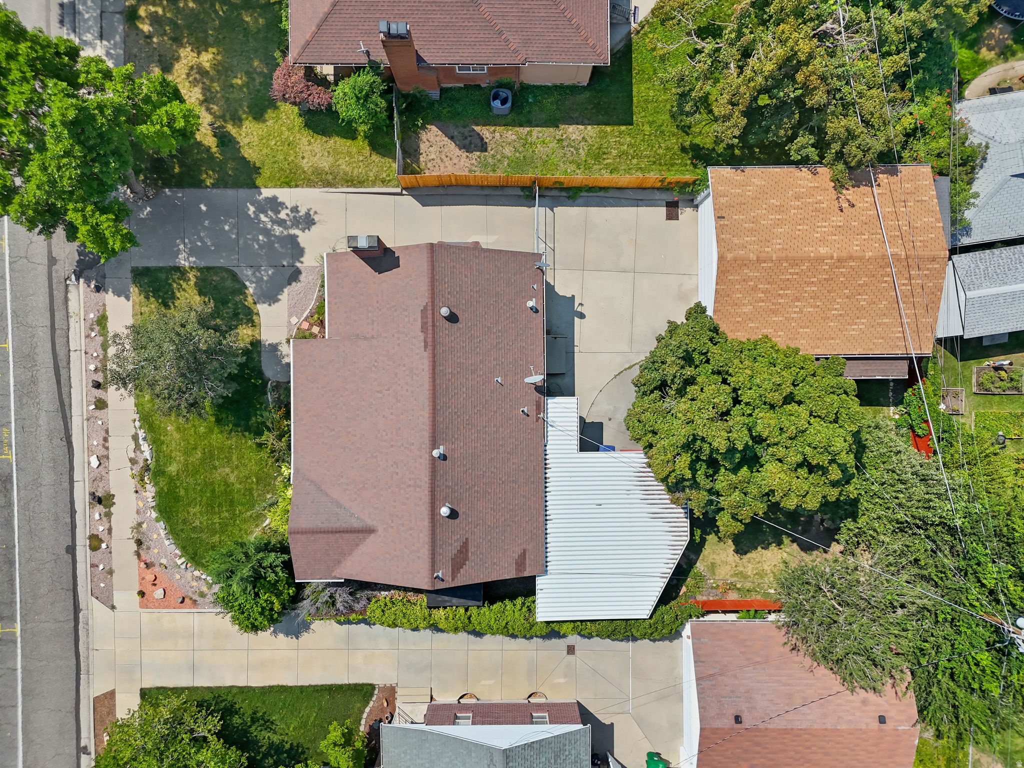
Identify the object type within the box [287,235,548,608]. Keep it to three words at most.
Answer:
house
